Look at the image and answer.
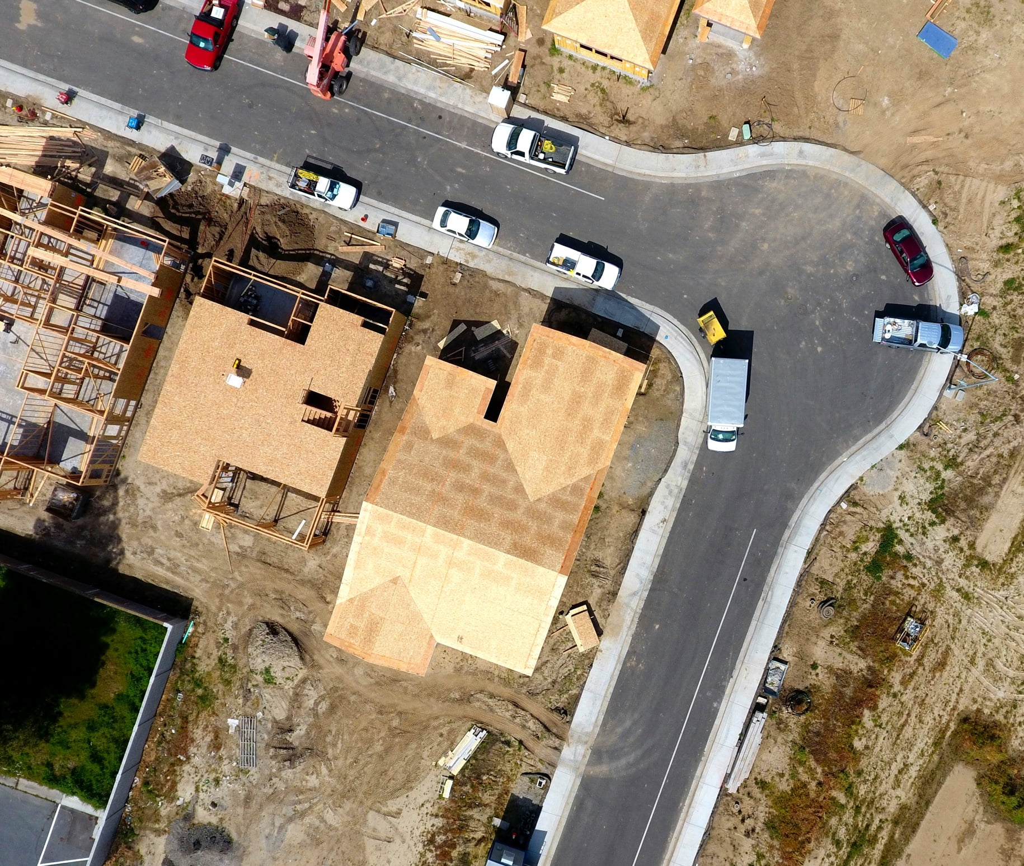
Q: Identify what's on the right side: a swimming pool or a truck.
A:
truck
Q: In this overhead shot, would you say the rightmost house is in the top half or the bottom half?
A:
top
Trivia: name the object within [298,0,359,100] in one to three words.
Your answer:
work vehicle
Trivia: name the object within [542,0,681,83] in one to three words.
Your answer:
house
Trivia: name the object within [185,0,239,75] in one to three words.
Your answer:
truck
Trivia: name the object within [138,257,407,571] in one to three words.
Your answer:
house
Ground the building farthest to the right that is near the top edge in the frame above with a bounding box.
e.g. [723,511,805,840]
[692,0,776,51]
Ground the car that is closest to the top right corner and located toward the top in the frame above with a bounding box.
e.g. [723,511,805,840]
[882,221,934,292]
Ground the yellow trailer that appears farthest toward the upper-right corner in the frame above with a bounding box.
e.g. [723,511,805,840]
[696,311,726,357]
